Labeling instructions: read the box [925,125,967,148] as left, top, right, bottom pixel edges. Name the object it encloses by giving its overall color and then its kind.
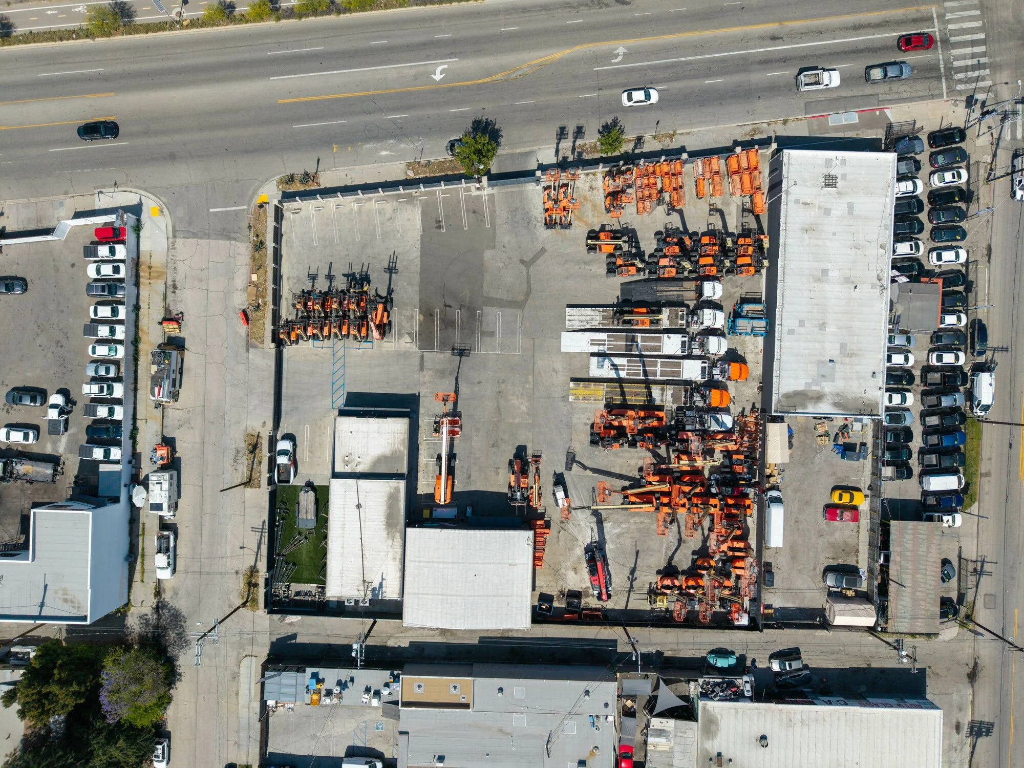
black car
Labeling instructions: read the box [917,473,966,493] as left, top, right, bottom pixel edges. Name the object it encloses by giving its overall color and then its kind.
white vehicle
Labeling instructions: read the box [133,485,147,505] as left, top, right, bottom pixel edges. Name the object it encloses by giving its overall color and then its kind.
white umbrella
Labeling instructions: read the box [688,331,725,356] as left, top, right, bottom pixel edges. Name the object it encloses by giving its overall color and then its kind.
white truck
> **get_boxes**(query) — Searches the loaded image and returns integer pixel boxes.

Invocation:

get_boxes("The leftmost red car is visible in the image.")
[89,223,122,242]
